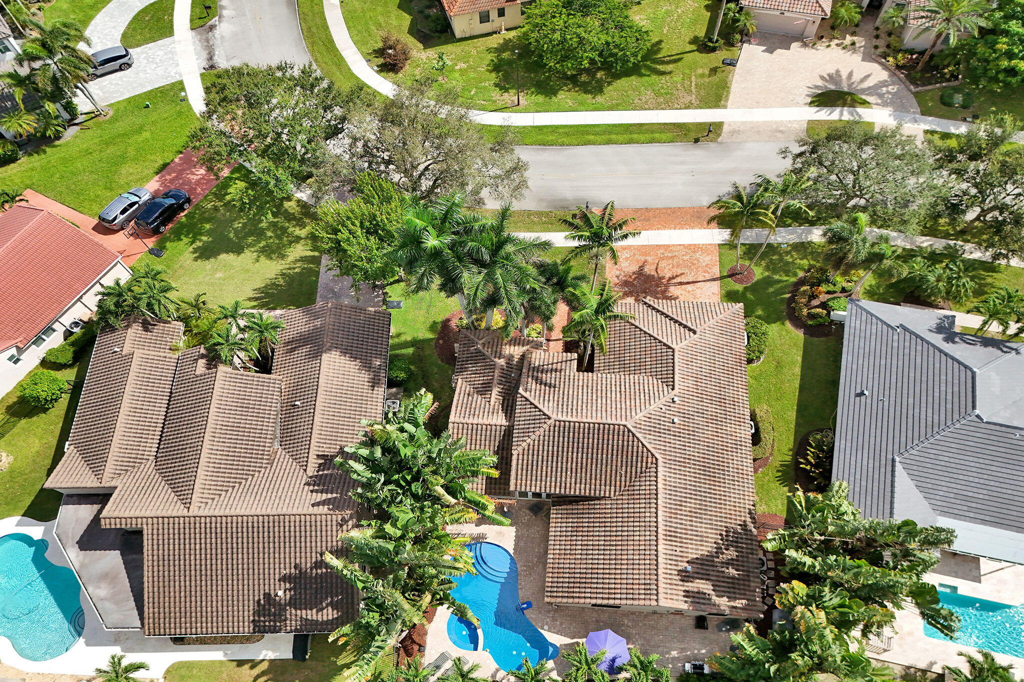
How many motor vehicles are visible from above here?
3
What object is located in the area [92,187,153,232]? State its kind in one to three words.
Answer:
car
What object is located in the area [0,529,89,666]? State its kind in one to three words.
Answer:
swimming pool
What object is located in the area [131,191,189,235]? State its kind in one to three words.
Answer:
car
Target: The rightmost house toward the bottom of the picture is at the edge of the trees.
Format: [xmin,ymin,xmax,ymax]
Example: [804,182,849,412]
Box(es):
[828,298,1024,569]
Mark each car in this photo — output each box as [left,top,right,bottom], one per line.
[131,191,189,235]
[79,45,134,79]
[92,187,153,232]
